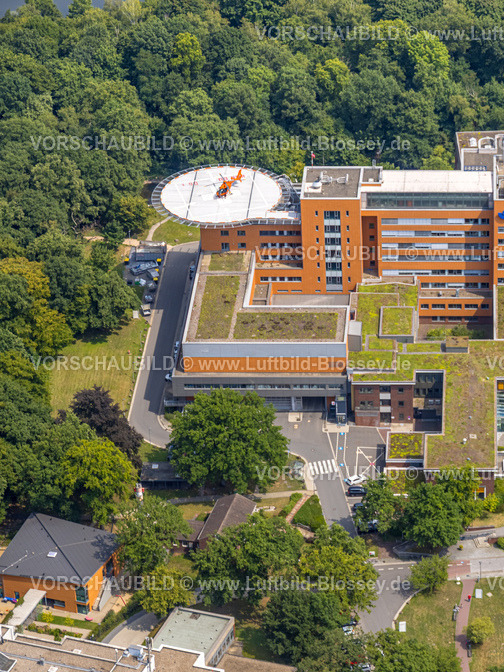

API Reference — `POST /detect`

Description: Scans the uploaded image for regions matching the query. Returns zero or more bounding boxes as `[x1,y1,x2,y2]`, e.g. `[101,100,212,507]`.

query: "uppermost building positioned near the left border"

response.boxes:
[0,513,119,610]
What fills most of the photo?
trees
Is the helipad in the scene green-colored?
No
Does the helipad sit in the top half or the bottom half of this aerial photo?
top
